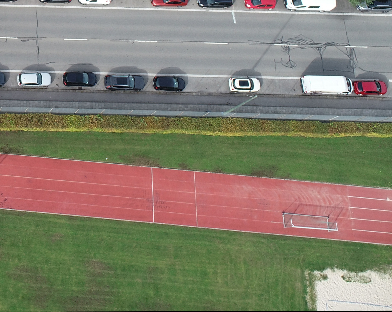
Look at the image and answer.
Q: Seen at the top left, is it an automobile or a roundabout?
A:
automobile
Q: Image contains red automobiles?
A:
Yes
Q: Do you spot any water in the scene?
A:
No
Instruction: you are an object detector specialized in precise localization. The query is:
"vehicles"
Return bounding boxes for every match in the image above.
[300,75,351,96]
[227,77,261,94]
[150,0,188,9]
[285,0,338,13]
[78,0,113,6]
[105,74,146,92]
[197,0,233,10]
[63,71,96,89]
[39,0,72,5]
[17,72,51,90]
[351,79,387,97]
[244,0,277,11]
[152,75,185,93]
[358,0,392,15]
